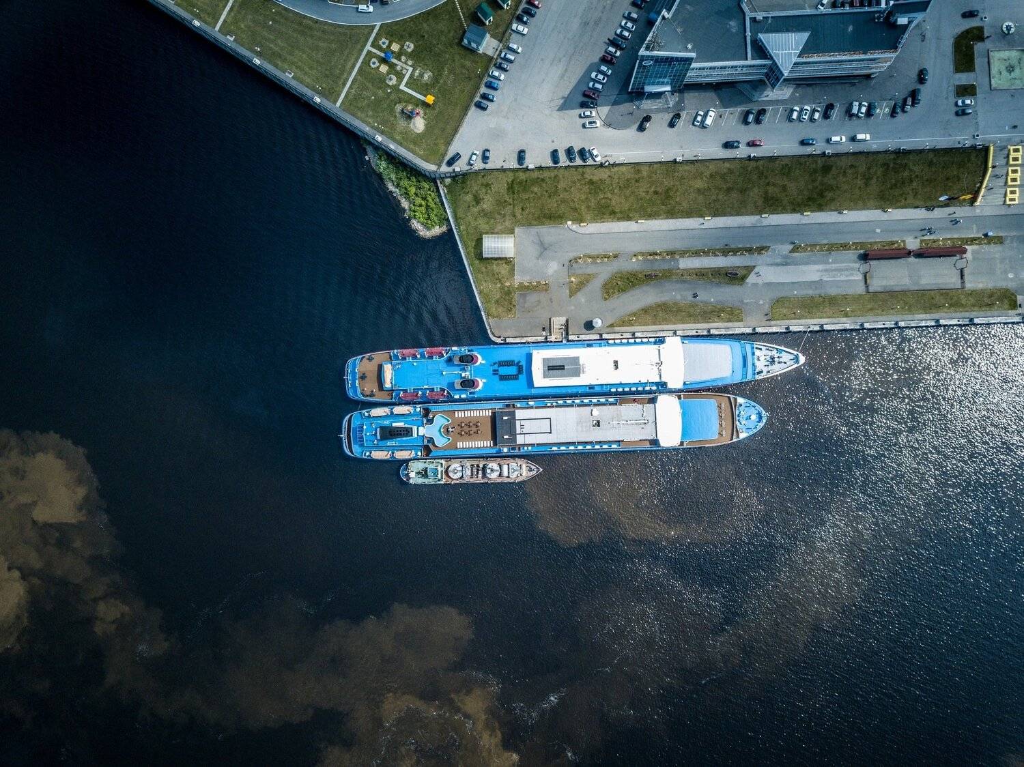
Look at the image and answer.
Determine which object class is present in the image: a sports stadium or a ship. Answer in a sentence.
The one in the frame is a ship.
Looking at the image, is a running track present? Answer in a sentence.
No, no running track is visible in the view.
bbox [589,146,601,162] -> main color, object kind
white vehicle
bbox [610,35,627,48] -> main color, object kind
black vehicle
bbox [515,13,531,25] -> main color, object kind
black vehicle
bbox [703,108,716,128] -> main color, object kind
white vehicle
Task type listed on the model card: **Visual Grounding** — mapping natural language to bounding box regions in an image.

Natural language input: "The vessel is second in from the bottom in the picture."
[338,393,771,461]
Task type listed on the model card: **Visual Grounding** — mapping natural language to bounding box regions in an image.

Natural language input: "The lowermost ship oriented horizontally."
[400,458,543,485]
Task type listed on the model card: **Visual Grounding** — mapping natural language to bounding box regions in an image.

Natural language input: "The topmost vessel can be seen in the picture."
[342,336,807,403]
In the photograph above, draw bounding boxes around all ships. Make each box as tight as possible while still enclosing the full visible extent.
[400,458,543,485]
[338,393,771,461]
[342,336,807,403]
